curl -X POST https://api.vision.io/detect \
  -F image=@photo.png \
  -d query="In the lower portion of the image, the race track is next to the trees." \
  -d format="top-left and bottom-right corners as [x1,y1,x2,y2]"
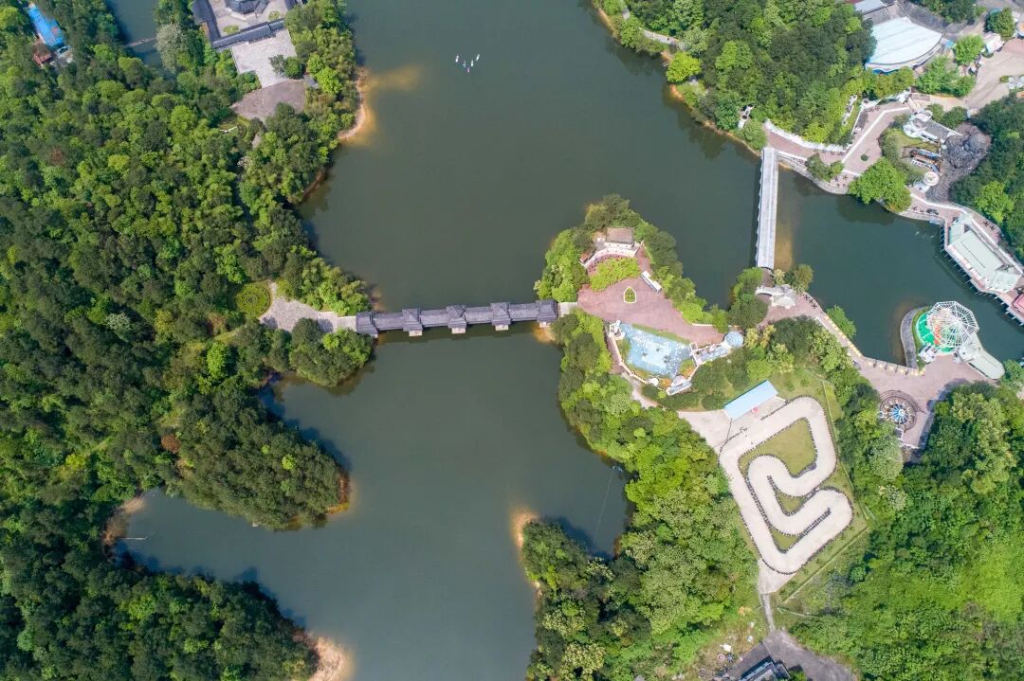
[713,393,853,575]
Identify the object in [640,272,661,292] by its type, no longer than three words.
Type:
bus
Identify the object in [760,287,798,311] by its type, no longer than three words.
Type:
building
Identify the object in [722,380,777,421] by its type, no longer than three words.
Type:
shed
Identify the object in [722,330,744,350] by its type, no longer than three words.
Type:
building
